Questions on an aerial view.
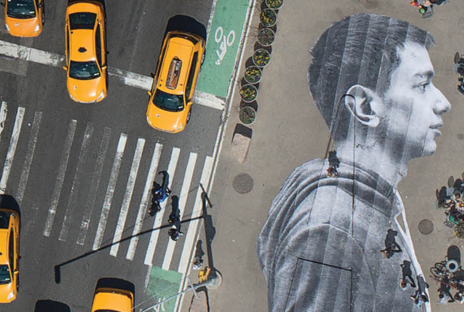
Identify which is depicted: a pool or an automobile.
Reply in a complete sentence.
There is an automobile in the scene.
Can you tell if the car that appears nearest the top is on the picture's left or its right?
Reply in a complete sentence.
The car that appears nearest the top sits on the left side.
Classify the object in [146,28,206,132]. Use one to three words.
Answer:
car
